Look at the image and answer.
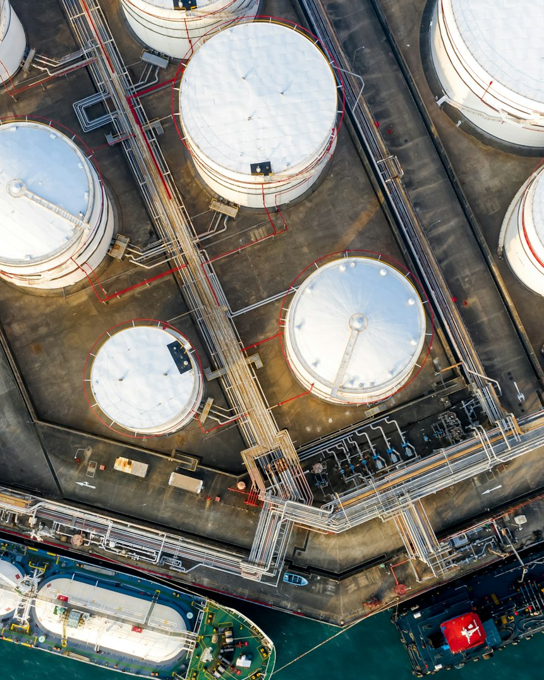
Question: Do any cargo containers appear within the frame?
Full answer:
Yes, a cargo container can be made out from above.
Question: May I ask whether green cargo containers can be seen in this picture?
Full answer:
No, the photo shows no green cargo container.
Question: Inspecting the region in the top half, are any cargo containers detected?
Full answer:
No, no cargo container is visible in the top half.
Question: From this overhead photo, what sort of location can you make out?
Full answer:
This looks like an industrial area.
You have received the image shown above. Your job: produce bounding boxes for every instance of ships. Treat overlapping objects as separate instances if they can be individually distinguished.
[0,537,277,680]
[393,550,544,674]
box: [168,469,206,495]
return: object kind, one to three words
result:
shipping container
